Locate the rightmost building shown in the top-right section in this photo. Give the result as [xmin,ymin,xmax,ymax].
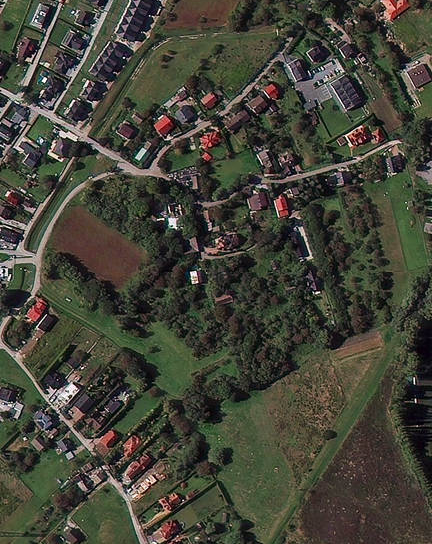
[408,63,432,87]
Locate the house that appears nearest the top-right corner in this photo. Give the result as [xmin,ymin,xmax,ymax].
[382,0,411,19]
